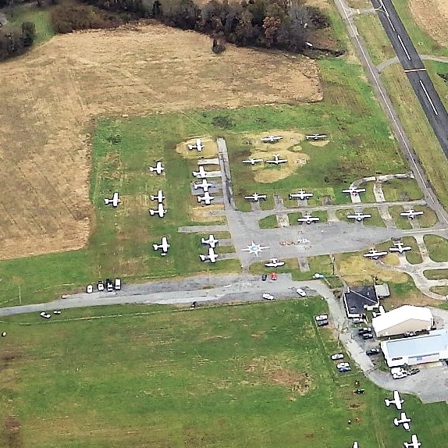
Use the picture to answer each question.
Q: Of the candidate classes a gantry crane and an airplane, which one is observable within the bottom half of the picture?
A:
airplane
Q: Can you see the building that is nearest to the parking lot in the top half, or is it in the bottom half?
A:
bottom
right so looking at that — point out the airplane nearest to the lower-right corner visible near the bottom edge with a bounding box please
[404,435,425,448]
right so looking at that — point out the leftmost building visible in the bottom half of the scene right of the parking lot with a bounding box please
[344,284,390,319]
